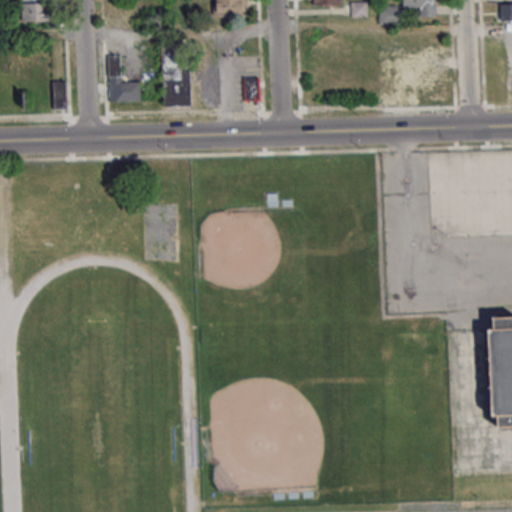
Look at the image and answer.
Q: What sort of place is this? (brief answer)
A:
sports ground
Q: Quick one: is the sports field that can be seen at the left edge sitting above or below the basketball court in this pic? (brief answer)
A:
below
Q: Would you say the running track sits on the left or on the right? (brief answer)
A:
left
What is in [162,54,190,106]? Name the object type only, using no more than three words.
building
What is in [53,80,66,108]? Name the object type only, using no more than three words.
shed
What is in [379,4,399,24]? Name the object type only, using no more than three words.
house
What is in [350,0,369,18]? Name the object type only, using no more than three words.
building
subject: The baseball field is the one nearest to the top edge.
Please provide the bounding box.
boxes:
[191,154,384,336]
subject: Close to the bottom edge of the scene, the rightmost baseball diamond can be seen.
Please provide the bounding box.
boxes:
[197,317,454,507]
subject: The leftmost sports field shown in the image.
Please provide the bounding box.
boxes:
[17,267,188,512]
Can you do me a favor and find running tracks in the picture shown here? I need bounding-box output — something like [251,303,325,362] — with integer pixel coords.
[0,250,204,512]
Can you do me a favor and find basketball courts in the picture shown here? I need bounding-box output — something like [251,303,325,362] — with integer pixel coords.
[144,204,180,262]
